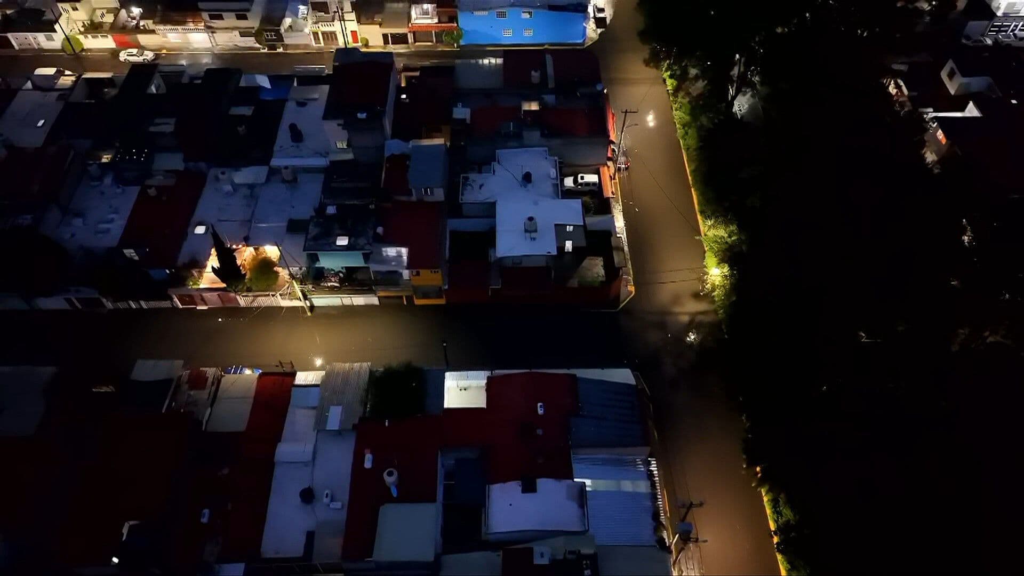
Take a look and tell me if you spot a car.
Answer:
Yes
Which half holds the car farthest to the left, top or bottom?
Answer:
top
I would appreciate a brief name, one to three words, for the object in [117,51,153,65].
car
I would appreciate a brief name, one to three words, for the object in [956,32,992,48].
car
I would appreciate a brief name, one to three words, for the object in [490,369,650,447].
house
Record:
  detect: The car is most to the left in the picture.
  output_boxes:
[27,69,73,91]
